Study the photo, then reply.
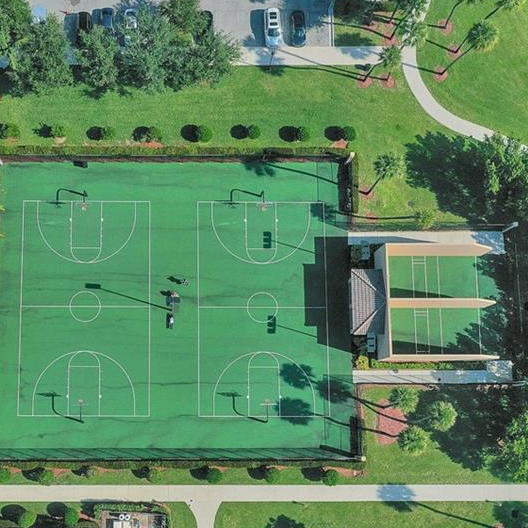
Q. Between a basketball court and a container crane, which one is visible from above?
basketball court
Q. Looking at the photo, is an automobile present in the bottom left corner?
No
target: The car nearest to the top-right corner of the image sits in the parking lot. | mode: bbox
[289,11,307,47]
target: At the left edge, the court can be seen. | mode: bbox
[0,163,174,458]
